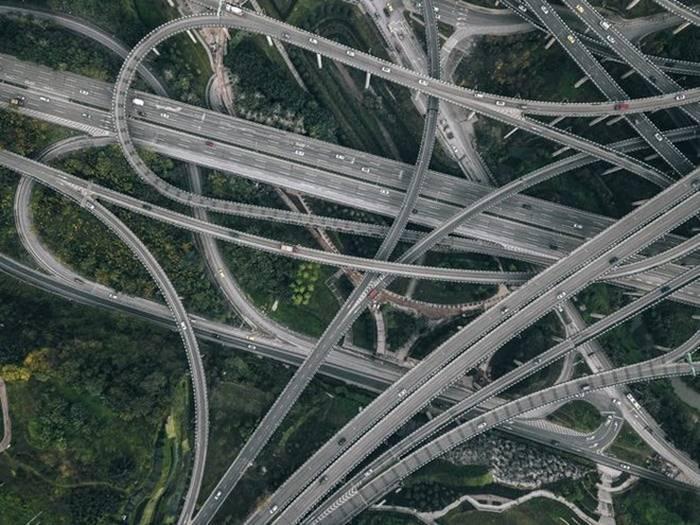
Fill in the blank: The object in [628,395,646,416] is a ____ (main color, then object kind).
white vehicle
